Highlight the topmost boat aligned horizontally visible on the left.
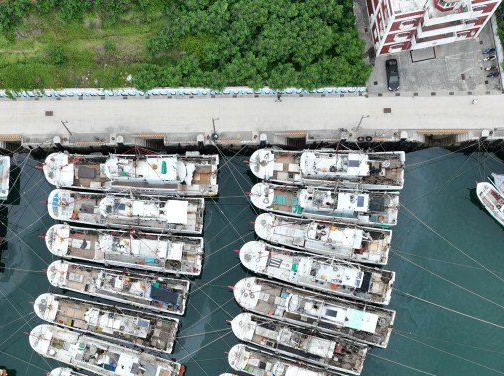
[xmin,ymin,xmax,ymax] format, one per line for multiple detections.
[38,146,219,197]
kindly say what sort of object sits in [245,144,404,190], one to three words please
boat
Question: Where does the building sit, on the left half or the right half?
right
